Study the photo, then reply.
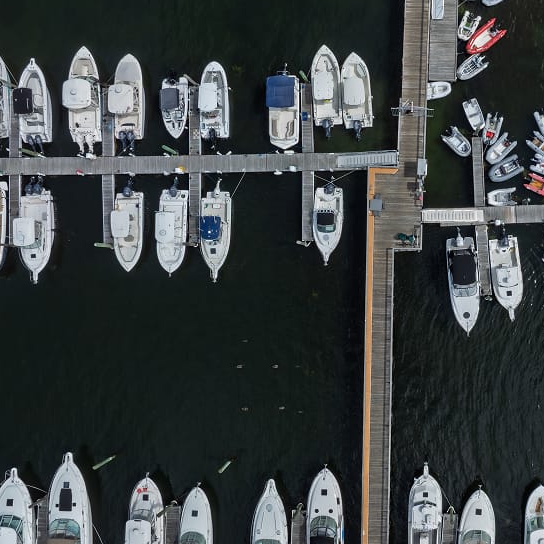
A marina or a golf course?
marina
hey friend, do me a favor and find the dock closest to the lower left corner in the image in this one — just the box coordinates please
[36,496,51,544]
